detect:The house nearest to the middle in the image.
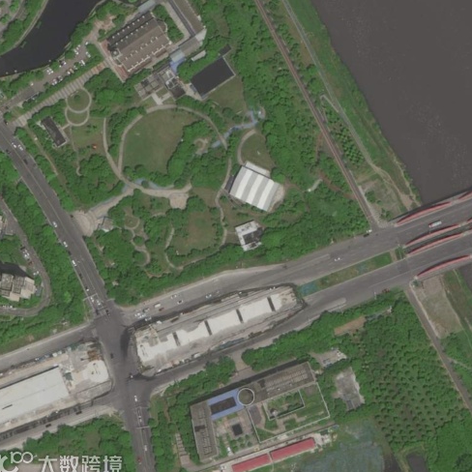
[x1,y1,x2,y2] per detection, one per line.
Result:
[235,220,264,252]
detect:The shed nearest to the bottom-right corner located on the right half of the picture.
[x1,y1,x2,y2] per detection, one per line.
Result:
[270,437,317,461]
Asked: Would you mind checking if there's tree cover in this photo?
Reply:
Yes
